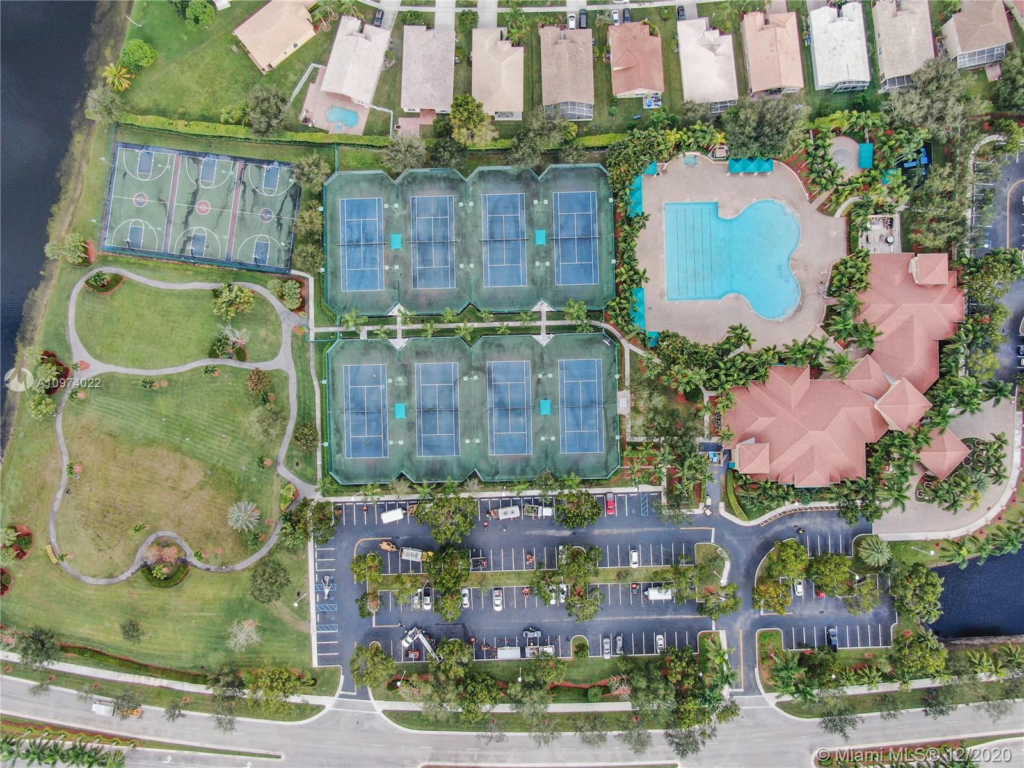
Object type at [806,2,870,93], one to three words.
house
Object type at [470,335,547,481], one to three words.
tennis court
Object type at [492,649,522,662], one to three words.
vehicle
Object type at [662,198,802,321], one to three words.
swimming pool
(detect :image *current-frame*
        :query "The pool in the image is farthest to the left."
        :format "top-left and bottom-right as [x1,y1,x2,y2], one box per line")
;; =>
[324,105,360,128]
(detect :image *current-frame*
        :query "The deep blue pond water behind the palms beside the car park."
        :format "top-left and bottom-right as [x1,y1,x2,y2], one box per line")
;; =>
[927,543,1024,636]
